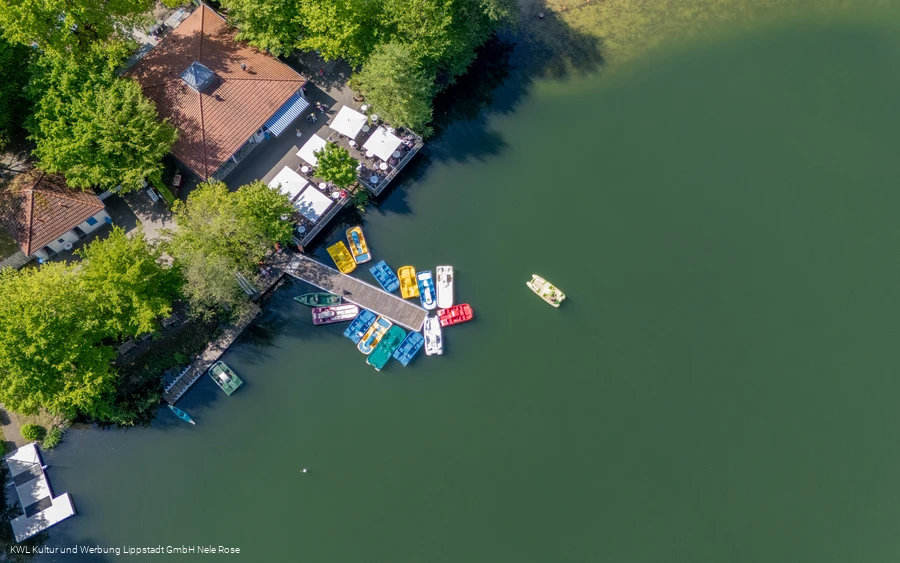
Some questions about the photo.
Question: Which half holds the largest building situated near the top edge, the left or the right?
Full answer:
It is on the left.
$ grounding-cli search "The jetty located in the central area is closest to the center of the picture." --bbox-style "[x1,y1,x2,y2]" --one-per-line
[287,253,428,331]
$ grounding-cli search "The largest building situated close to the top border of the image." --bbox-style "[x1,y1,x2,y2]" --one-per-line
[111,8,315,185]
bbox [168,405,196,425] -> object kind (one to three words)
boat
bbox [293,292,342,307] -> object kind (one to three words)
boat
